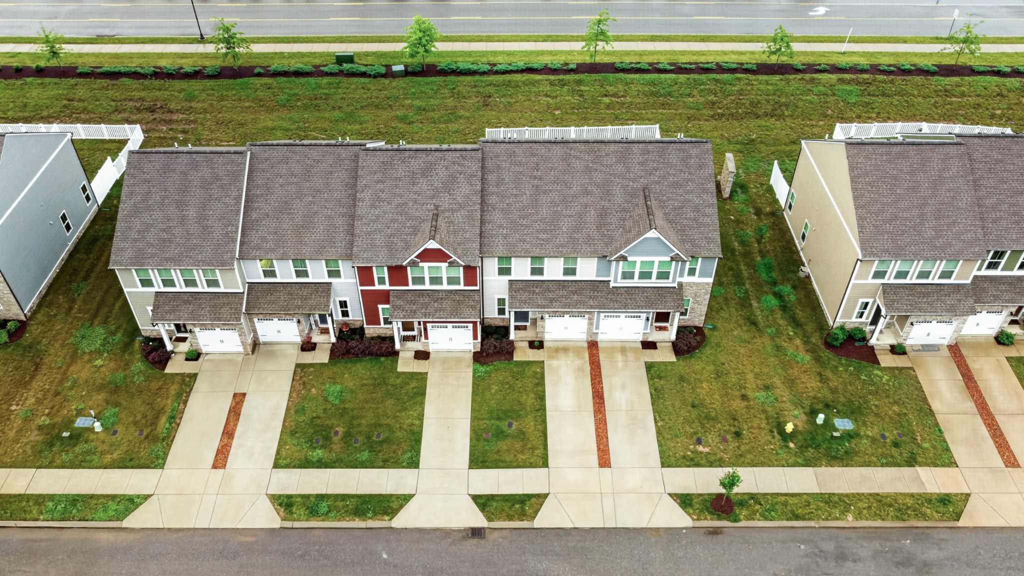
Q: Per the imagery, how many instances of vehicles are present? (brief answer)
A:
0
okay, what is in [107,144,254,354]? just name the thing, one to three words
house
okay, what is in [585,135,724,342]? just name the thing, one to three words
house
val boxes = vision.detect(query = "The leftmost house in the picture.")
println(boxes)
[0,130,93,320]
